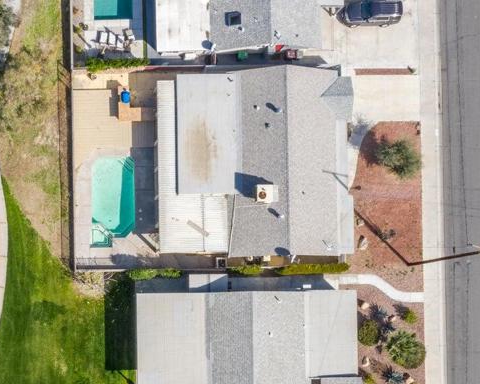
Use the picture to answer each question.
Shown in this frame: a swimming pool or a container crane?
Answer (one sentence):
This aerial view contains a swimming pool.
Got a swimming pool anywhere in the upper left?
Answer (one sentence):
Yes, there is a swimming pool in the upper left.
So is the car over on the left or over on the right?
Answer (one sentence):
The car sits on the right side.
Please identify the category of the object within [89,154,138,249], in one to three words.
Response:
swimming pool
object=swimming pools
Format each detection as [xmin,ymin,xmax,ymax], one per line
[91,0,137,22]
[89,154,138,249]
